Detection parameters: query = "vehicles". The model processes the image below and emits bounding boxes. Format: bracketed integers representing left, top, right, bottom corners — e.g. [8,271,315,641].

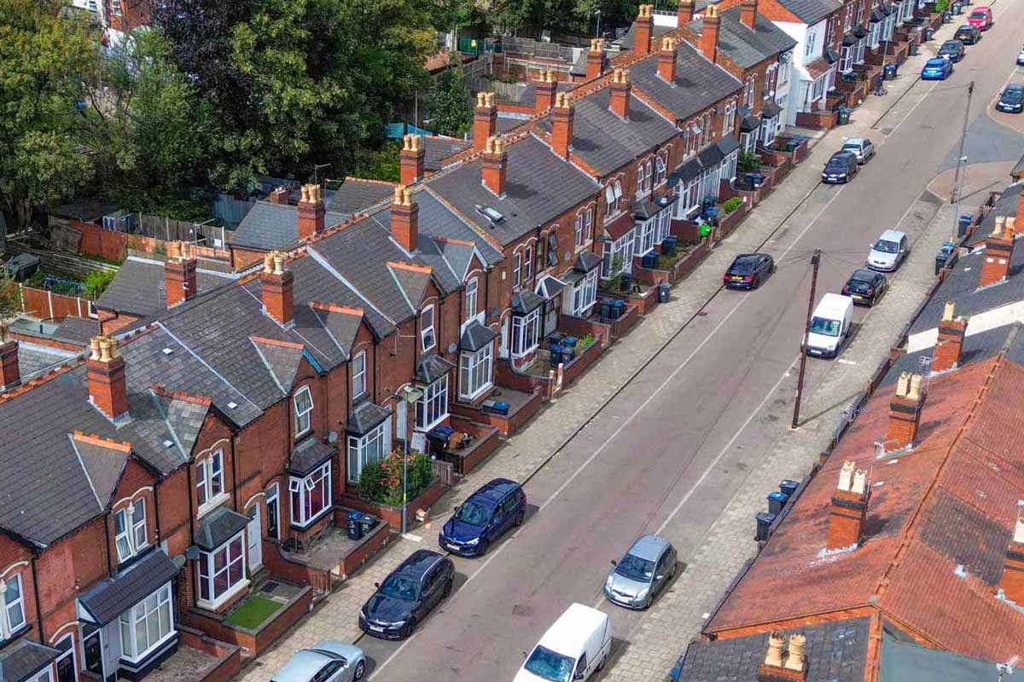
[998,81,1024,109]
[726,247,779,284]
[970,4,996,27]
[451,474,538,552]
[868,225,913,266]
[496,604,604,682]
[846,133,881,160]
[606,525,683,600]
[805,287,860,349]
[825,146,864,179]
[843,263,890,300]
[956,20,984,40]
[922,54,953,76]
[365,545,468,636]
[939,34,969,58]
